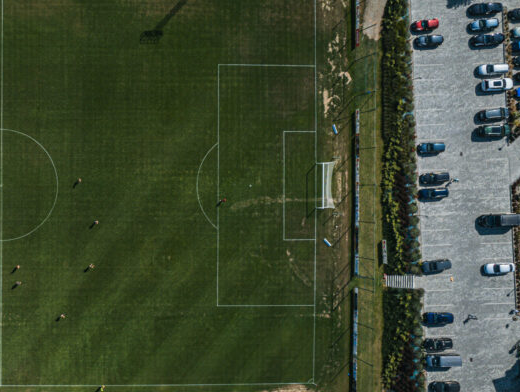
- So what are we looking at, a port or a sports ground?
sports ground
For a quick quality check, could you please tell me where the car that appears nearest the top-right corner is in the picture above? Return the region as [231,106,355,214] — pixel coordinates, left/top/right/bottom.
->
[508,8,520,21]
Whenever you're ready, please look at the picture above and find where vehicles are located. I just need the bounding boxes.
[482,77,512,91]
[421,260,450,273]
[512,71,520,83]
[423,313,453,326]
[477,107,508,120]
[470,33,505,47]
[427,381,459,392]
[510,25,520,37]
[468,2,501,16]
[425,354,465,370]
[417,142,444,155]
[511,41,520,53]
[476,215,520,228]
[478,63,509,76]
[424,338,452,352]
[419,188,449,201]
[476,124,510,138]
[514,87,520,99]
[419,172,448,186]
[469,18,498,32]
[412,18,439,32]
[508,8,520,21]
[511,55,520,67]
[414,35,443,48]
[482,263,513,276]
